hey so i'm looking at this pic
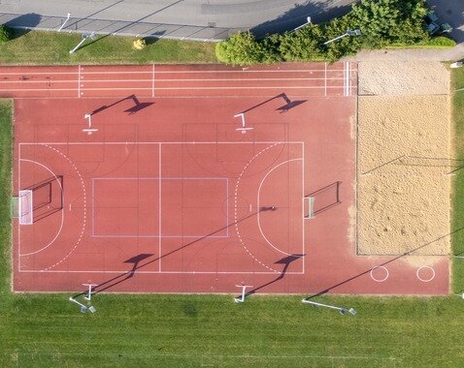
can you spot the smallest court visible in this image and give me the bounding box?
[356,95,459,256]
